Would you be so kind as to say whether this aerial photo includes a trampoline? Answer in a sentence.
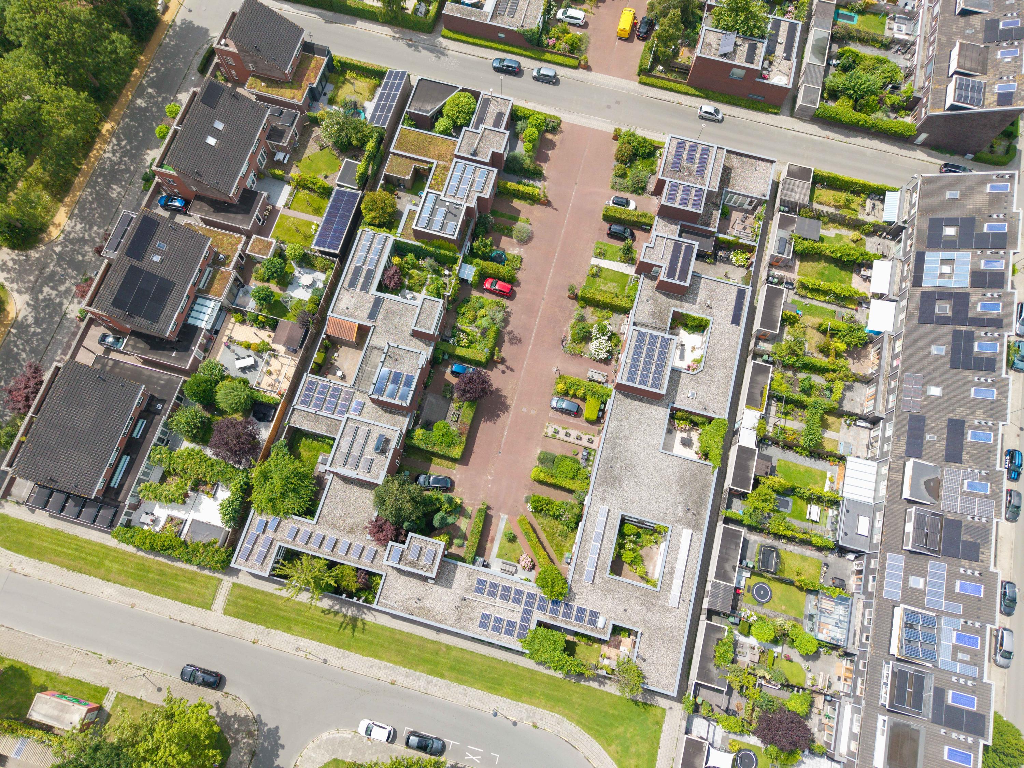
Yes, a trampoline is visible in the scene.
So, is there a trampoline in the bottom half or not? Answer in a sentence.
Yes, there is a trampoline in the bottom half.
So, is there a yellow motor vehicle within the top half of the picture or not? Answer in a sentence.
Yes, the scene does show a yellow motor vehicle within the top half of the picture.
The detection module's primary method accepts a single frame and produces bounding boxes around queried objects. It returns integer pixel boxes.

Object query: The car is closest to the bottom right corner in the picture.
[993,626,1018,670]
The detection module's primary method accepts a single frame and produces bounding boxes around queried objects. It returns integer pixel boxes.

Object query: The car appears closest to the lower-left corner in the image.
[179,665,222,690]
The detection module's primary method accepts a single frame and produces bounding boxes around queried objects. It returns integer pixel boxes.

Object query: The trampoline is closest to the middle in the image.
[490,244,507,265]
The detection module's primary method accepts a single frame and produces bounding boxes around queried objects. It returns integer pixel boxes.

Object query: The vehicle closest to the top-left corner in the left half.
[155,193,189,212]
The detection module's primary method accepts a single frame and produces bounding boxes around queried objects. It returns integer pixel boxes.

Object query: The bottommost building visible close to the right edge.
[822,700,984,768]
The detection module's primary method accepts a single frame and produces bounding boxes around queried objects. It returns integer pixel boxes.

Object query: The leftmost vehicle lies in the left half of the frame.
[94,332,125,351]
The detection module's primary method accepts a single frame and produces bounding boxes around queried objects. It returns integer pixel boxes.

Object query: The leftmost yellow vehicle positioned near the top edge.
[618,10,635,36]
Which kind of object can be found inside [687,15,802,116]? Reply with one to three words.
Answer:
house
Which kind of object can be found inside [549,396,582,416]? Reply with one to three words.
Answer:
car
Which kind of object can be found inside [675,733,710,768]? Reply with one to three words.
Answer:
shed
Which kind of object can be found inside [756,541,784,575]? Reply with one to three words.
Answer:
trampoline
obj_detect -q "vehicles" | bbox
[415,472,453,491]
[94,332,125,351]
[698,104,723,122]
[179,665,222,690]
[637,16,653,39]
[155,193,189,212]
[609,194,637,212]
[532,67,558,85]
[606,223,636,242]
[556,7,586,26]
[1006,488,1024,523]
[993,626,1018,670]
[549,396,582,416]
[618,10,635,36]
[492,56,522,75]
[939,161,973,173]
[1006,450,1024,479]
[403,731,445,756]
[1013,340,1024,371]
[481,277,516,298]
[357,718,395,743]
[449,361,478,375]
[1001,580,1021,616]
